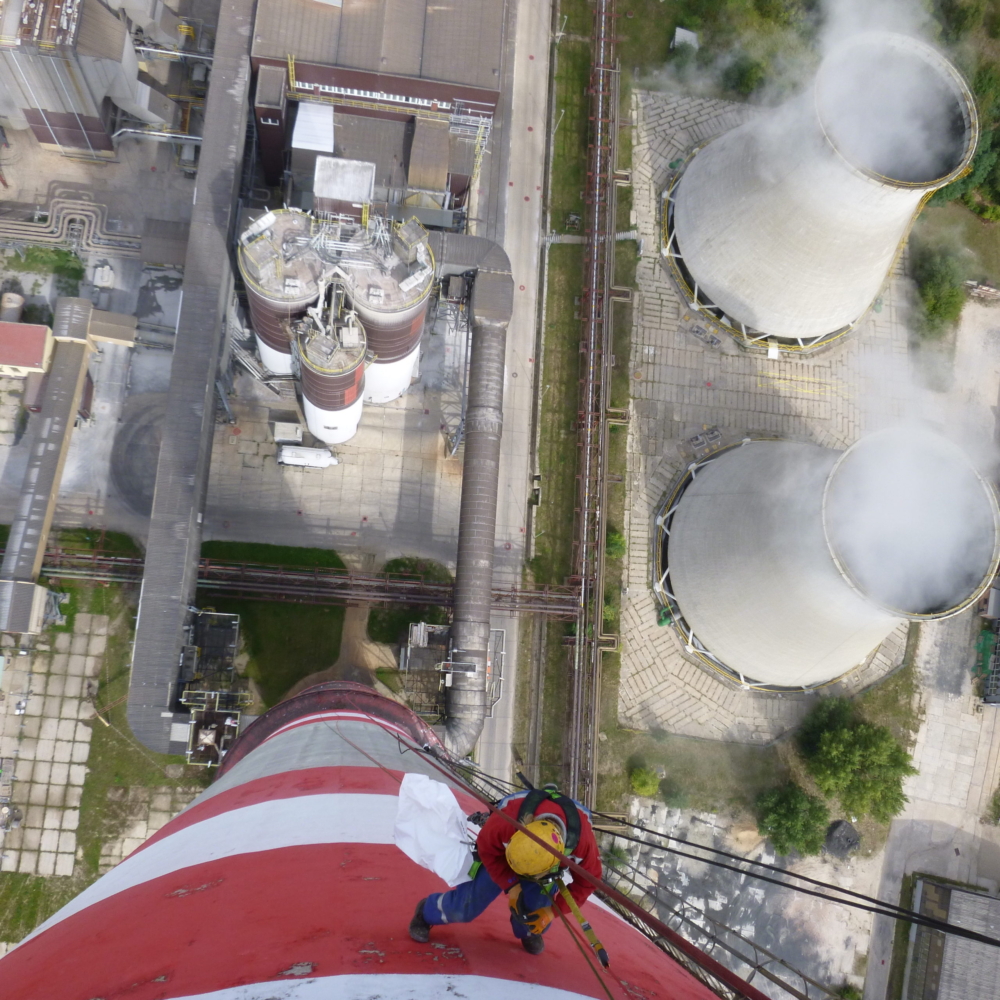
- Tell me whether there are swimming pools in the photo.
No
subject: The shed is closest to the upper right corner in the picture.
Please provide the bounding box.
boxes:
[670,28,698,61]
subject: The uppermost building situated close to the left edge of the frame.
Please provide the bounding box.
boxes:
[0,0,205,161]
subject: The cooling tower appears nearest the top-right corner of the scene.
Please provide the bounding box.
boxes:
[654,21,994,358]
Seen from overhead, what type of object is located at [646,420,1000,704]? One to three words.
cooling tower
